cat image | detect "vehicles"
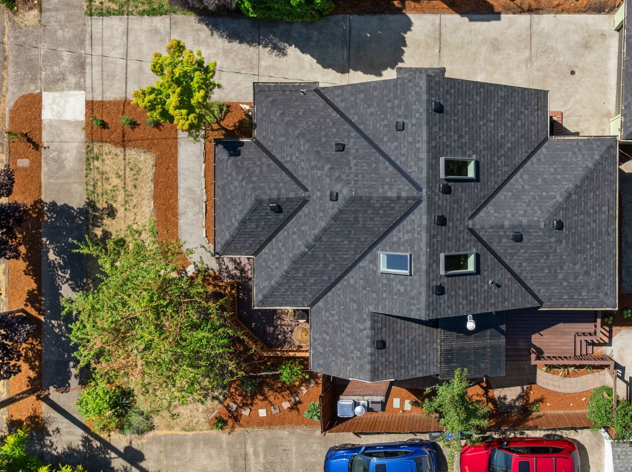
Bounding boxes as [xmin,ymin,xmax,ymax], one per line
[461,437,580,472]
[324,440,440,472]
